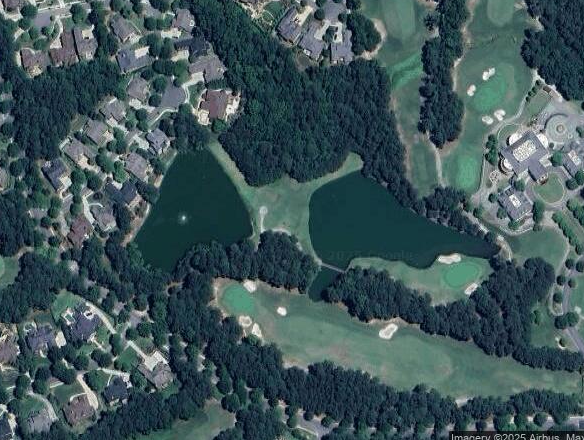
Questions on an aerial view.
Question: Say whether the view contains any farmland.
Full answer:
No, the picture contains no farmland.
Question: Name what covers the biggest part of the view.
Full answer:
What you mostly see from above here is trees.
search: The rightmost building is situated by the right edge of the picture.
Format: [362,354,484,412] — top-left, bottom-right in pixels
[560,147,584,178]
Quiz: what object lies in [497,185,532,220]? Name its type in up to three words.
building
